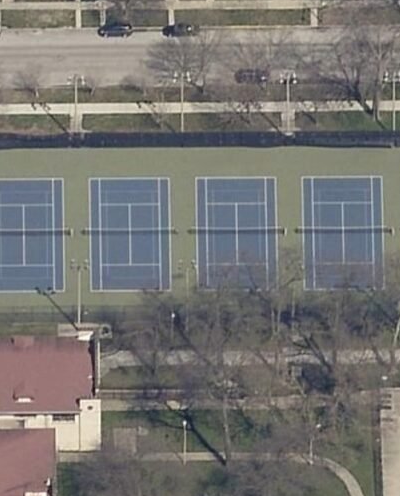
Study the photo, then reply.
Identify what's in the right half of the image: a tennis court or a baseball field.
tennis court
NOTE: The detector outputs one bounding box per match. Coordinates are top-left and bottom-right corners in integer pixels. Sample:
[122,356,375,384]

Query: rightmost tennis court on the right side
[301,175,385,289]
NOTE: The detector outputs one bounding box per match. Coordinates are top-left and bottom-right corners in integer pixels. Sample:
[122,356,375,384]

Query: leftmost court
[0,177,65,291]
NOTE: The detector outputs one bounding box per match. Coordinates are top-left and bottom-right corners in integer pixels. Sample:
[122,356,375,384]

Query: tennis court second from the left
[89,177,172,291]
